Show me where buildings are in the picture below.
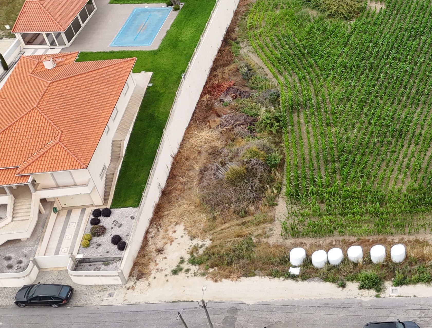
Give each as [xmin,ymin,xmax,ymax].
[0,49,153,242]
[6,0,96,46]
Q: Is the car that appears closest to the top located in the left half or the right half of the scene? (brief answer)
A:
left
